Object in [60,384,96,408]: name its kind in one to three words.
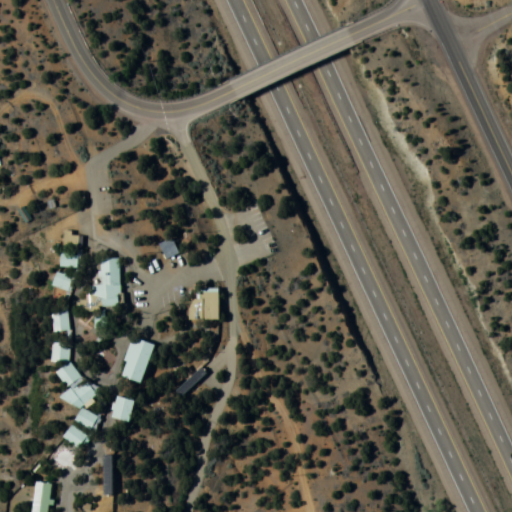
building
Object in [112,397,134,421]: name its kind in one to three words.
house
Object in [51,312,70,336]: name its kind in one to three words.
building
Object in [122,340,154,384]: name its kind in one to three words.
house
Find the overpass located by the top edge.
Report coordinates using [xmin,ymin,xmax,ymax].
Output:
[229,24,358,98]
